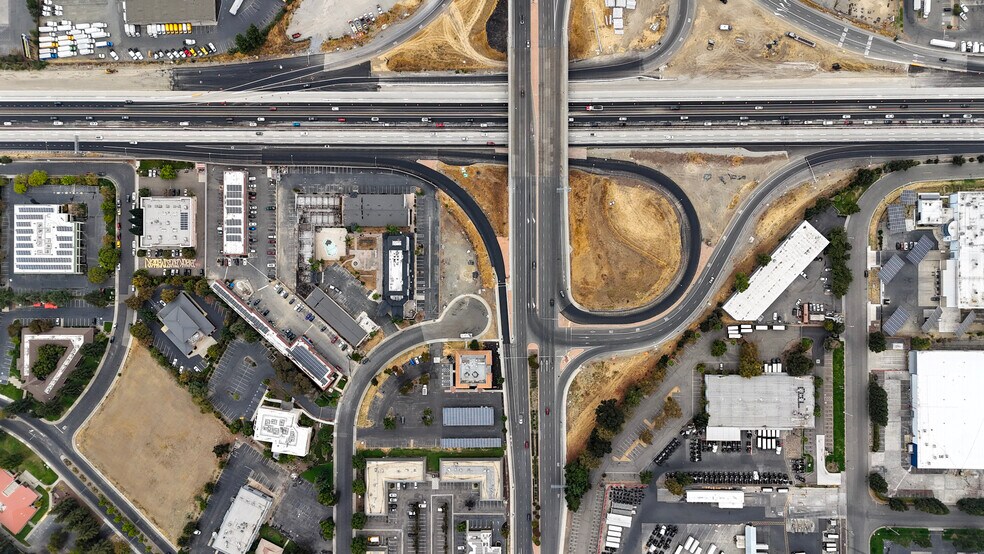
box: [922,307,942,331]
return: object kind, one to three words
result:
solar panel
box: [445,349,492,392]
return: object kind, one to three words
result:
building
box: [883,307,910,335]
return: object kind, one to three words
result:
solar panel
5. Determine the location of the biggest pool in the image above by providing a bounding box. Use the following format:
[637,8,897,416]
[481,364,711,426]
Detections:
[316,228,347,260]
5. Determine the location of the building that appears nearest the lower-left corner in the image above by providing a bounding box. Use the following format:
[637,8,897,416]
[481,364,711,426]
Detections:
[0,463,42,534]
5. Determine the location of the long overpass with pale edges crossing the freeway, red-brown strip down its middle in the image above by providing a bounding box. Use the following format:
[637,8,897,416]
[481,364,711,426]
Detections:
[508,0,571,328]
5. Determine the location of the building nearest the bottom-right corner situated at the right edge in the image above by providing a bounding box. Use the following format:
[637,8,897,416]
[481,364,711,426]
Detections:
[904,349,984,469]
